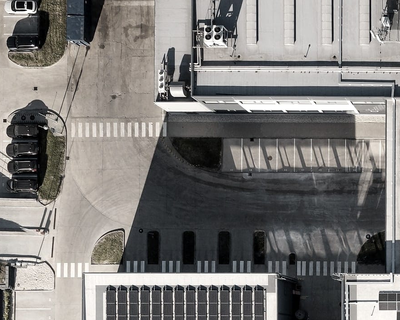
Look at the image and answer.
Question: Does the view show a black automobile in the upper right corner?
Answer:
No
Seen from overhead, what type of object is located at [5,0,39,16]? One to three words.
car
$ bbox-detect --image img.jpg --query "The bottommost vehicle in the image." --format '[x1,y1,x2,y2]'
[7,177,41,194]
